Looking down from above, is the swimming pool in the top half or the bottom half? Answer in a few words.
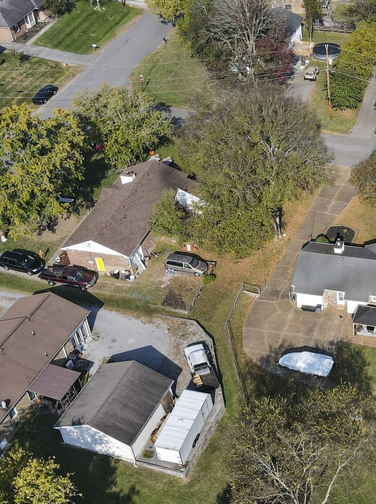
top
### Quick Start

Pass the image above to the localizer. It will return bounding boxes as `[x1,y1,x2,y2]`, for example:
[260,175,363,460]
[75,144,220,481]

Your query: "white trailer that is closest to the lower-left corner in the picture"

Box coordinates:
[156,392,213,468]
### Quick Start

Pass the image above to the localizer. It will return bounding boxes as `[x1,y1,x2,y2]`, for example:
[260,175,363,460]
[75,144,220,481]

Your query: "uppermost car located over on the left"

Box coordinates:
[32,83,58,100]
